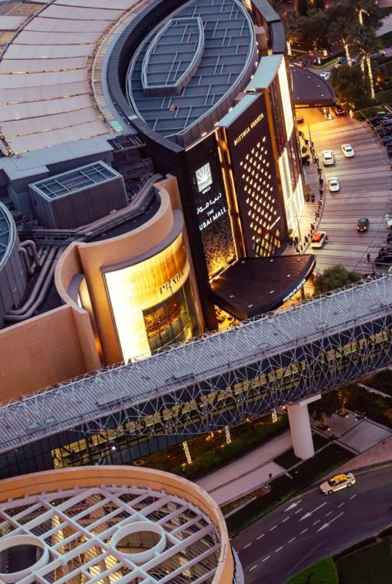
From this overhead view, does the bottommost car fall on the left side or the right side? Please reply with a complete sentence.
You can find the bottommost car on the right side of the picture.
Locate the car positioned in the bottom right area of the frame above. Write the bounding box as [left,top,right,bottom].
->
[319,472,357,495]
